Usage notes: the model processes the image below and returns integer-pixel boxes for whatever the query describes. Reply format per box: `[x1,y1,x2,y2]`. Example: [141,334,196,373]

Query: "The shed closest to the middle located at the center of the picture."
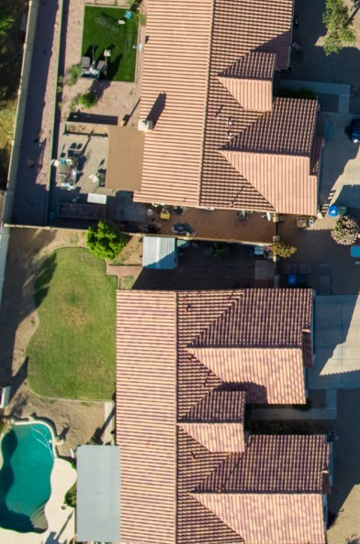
[134,235,177,268]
